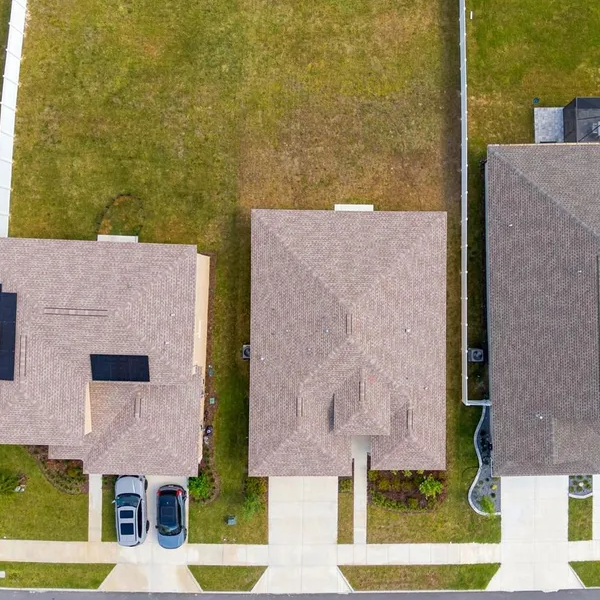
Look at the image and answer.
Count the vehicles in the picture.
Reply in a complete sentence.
There are 2 vehicles in the image.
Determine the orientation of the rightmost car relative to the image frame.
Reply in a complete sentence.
In this picture, the rightmost car is oriented vertically.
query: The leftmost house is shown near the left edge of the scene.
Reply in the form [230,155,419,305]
[0,238,213,478]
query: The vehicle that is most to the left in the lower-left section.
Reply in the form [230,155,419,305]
[112,474,152,547]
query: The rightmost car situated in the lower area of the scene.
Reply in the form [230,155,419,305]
[152,483,187,548]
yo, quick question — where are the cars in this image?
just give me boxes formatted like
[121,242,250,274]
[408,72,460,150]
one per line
[152,483,187,548]
[112,474,152,547]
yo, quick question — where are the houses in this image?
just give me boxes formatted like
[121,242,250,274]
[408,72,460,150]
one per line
[485,142,600,478]
[248,209,449,478]
[0,238,213,478]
